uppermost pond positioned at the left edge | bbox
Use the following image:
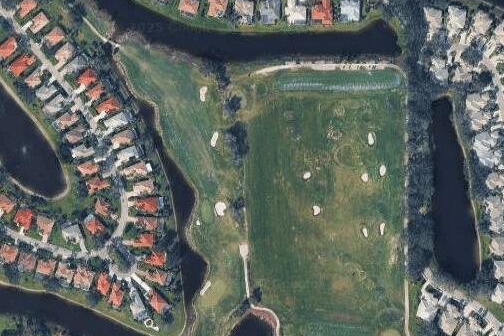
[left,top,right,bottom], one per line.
[0,85,64,196]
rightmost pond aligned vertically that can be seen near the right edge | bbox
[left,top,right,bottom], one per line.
[433,98,480,280]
